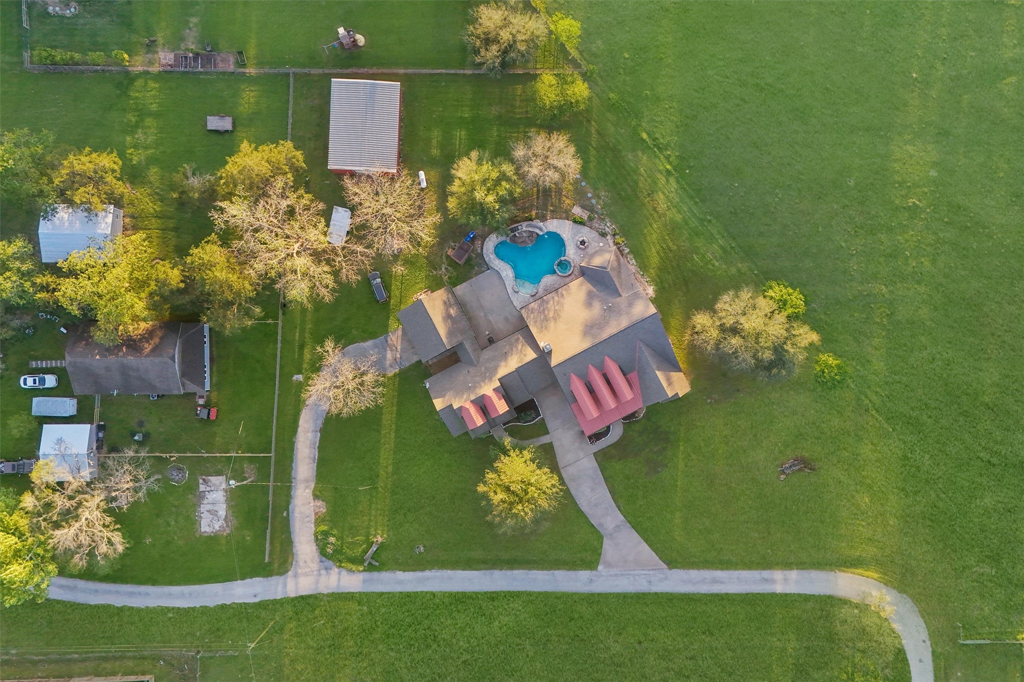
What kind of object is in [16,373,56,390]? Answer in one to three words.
car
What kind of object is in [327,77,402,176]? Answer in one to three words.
barn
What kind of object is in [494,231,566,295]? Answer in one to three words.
swimming pool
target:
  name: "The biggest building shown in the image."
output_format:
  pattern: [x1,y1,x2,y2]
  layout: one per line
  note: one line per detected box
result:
[397,245,692,440]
